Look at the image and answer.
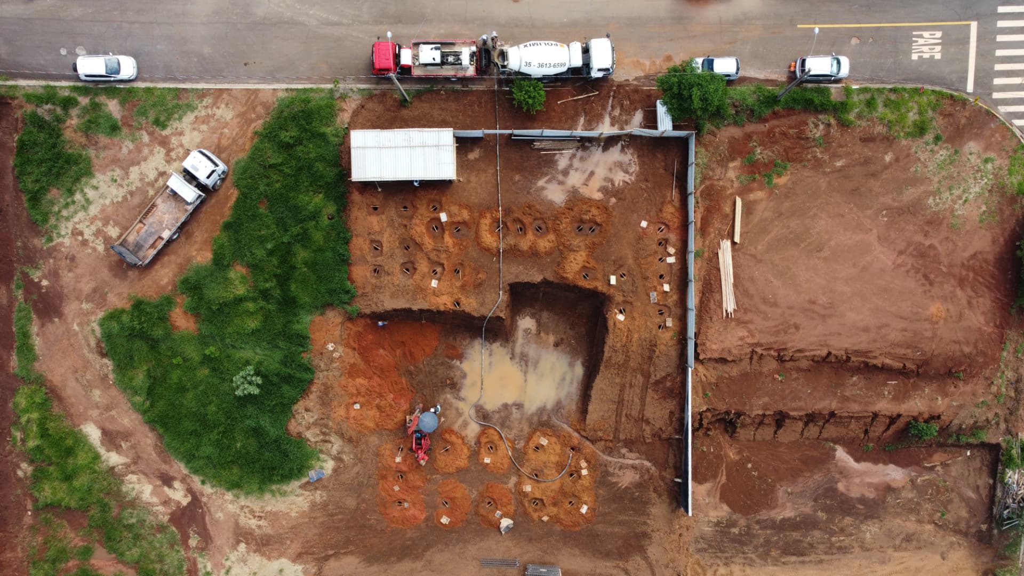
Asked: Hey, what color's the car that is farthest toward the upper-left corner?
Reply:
white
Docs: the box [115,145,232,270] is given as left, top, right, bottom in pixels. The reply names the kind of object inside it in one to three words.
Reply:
truck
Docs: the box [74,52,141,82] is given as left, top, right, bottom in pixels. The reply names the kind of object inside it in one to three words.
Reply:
car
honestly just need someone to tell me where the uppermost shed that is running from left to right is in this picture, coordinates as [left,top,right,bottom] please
[351,128,469,186]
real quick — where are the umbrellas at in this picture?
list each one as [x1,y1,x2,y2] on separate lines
[419,412,438,431]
